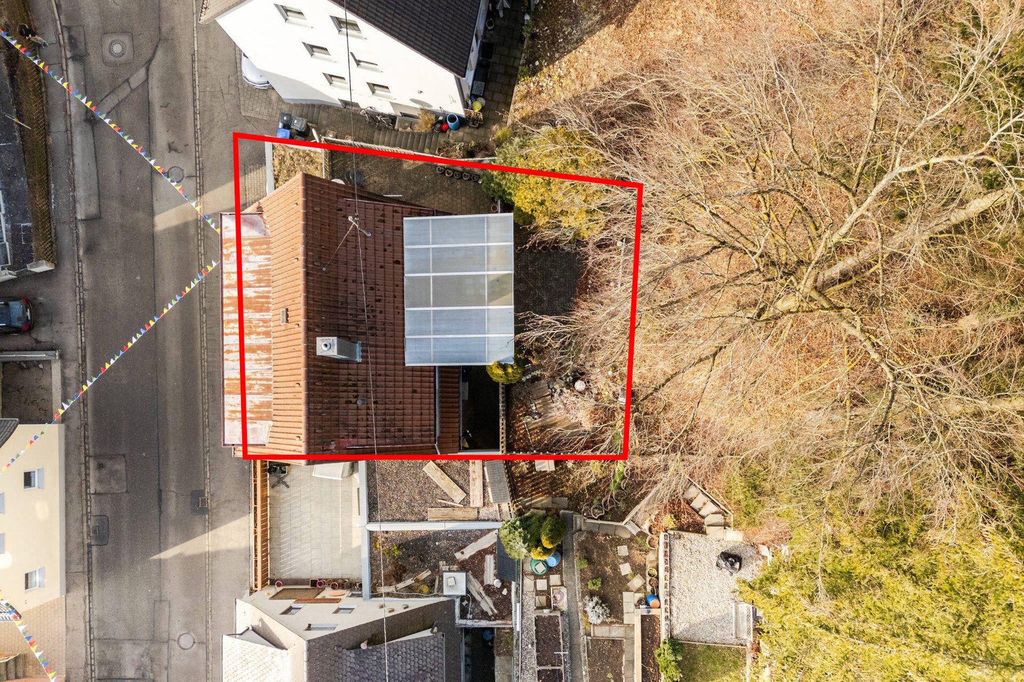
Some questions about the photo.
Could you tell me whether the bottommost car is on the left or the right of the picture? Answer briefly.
left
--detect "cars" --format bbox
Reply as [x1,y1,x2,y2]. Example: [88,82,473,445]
[232,42,273,92]
[0,297,35,335]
